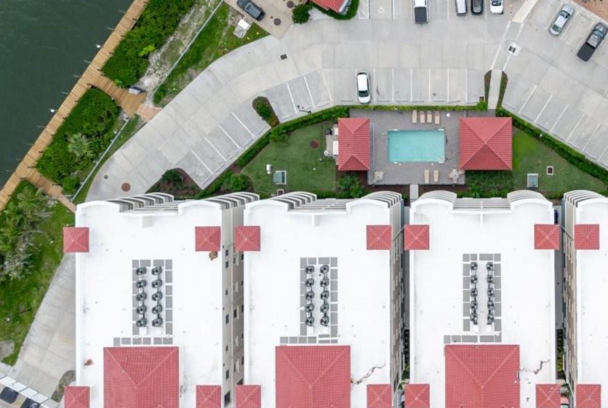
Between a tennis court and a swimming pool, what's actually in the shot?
swimming pool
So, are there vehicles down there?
Yes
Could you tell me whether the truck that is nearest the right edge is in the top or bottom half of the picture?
top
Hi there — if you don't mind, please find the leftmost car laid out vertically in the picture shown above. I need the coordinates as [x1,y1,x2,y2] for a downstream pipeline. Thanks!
[356,70,372,106]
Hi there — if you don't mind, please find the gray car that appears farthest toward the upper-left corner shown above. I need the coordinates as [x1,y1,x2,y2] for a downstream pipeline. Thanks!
[234,0,268,23]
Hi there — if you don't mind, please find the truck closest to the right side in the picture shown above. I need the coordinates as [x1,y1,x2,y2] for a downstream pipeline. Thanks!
[576,22,608,63]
